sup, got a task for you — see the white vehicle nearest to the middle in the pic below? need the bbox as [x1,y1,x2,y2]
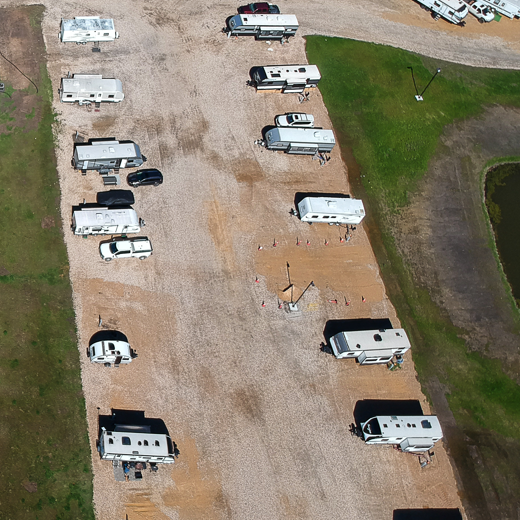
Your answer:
[282,196,365,228]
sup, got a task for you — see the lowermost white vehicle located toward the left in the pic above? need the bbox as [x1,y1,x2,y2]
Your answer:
[97,418,178,472]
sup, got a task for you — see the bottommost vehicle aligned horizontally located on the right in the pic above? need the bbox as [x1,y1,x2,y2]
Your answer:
[344,416,443,453]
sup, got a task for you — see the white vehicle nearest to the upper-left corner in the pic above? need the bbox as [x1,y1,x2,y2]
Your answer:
[58,18,117,49]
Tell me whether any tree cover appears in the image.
No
